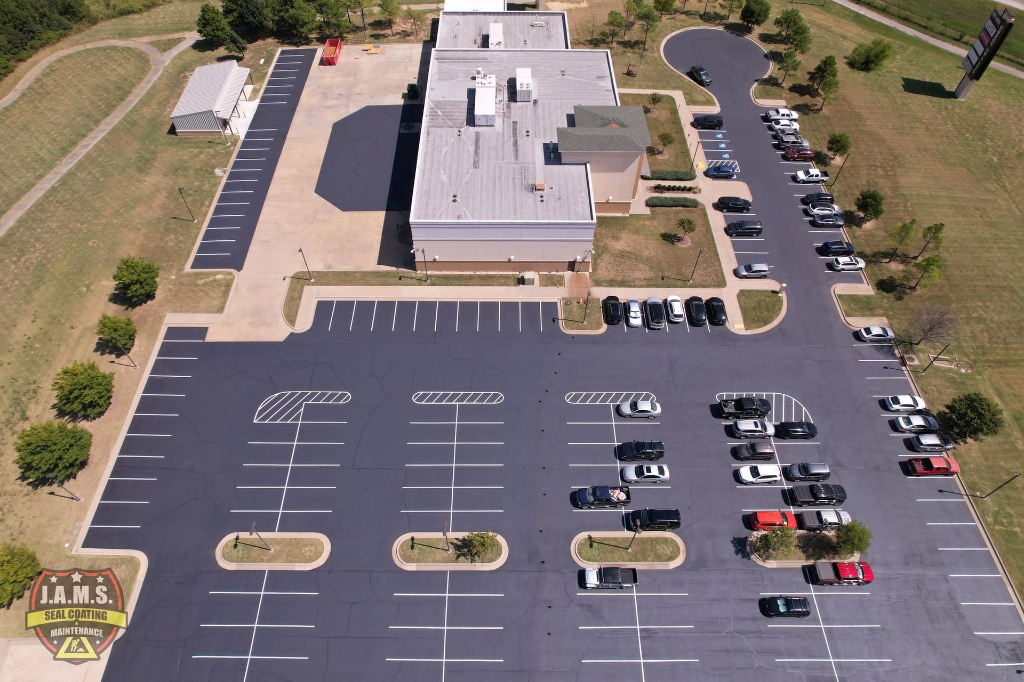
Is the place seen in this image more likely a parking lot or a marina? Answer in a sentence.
This looks like a parking lot.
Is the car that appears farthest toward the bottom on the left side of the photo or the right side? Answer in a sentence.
The car that appears farthest toward the bottom sits on the right side.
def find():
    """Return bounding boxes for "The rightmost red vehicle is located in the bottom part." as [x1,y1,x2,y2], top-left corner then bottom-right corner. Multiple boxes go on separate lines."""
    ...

[904,456,958,477]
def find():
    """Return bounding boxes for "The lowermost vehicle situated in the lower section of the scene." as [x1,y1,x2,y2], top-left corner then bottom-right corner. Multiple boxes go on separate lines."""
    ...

[759,594,811,619]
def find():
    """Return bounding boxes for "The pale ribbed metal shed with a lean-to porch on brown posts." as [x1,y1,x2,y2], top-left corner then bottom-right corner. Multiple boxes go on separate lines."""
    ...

[172,58,254,135]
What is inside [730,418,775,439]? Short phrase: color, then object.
white car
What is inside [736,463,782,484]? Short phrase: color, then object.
white car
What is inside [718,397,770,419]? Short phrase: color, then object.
black truck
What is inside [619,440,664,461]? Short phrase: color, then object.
black car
